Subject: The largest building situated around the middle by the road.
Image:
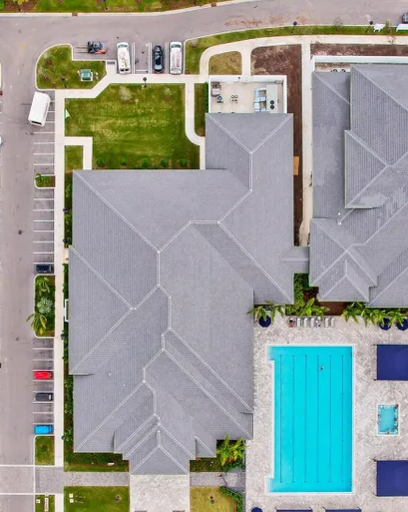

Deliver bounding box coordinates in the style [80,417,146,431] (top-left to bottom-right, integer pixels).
[68,112,295,475]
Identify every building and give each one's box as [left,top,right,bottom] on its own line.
[309,64,408,308]
[68,112,295,475]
